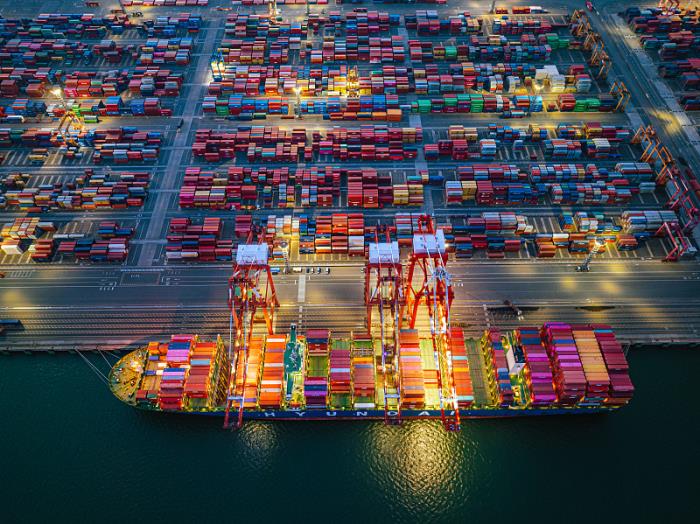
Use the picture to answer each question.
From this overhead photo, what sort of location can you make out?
port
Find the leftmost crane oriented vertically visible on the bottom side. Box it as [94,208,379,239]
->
[221,221,286,430]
